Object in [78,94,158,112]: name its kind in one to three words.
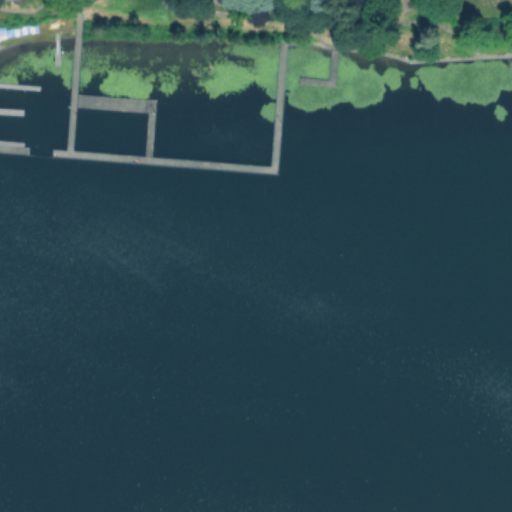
pier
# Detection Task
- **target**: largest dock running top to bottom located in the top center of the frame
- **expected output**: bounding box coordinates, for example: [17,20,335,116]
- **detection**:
[272,42,288,166]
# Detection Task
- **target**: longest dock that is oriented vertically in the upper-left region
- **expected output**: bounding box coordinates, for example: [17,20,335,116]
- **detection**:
[68,12,84,150]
